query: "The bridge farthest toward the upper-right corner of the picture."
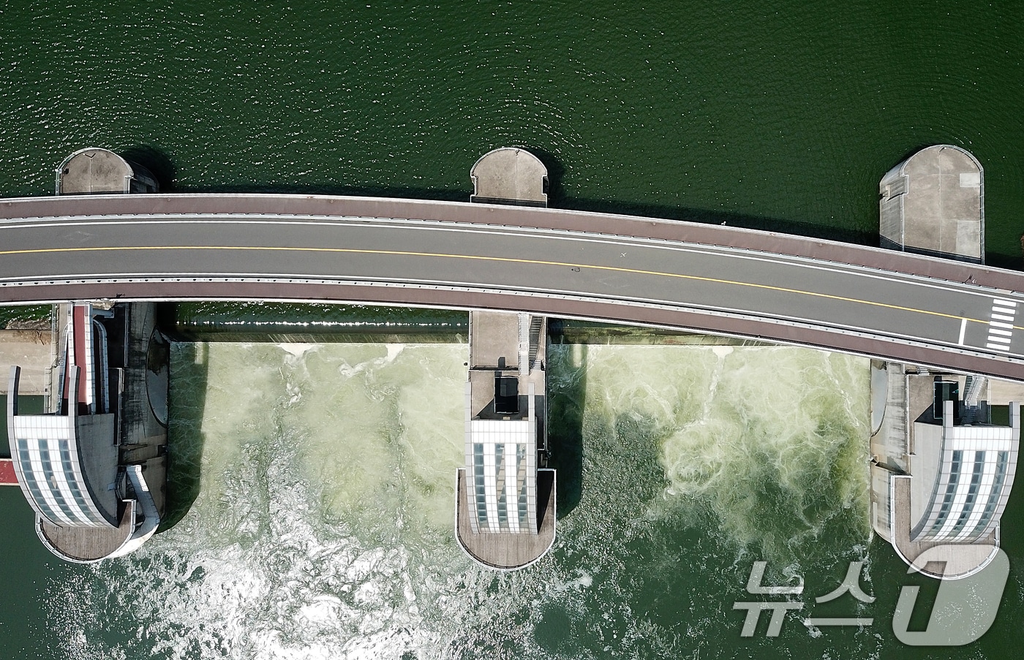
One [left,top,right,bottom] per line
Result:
[0,193,1024,384]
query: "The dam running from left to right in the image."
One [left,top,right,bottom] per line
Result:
[0,146,1024,576]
